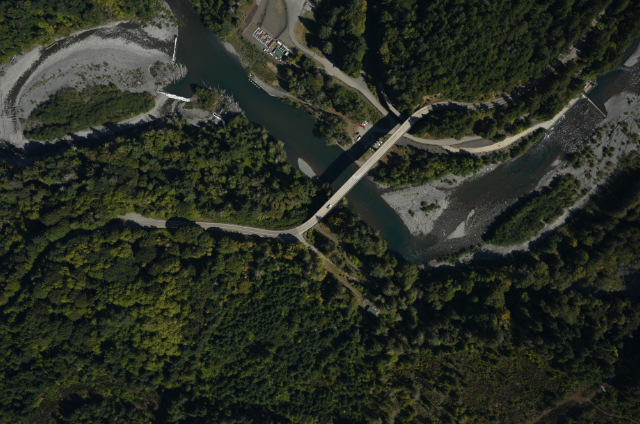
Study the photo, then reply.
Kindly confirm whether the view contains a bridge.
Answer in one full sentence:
Yes, a bridge appears in the view.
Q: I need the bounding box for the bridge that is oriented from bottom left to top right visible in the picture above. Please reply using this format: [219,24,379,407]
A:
[315,114,418,218]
